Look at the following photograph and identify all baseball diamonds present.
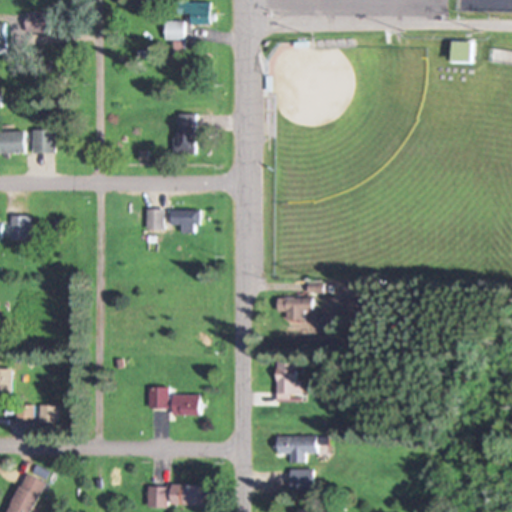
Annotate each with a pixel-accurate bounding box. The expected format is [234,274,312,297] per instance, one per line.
[268,42,428,202]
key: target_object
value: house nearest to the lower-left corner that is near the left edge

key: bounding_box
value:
[6,474,48,512]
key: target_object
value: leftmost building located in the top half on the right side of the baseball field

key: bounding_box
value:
[450,40,474,64]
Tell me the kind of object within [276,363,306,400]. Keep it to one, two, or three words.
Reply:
house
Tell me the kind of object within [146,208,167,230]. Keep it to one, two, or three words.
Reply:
building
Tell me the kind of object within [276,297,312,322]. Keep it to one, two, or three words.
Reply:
house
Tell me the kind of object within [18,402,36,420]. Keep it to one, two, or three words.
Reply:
shed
